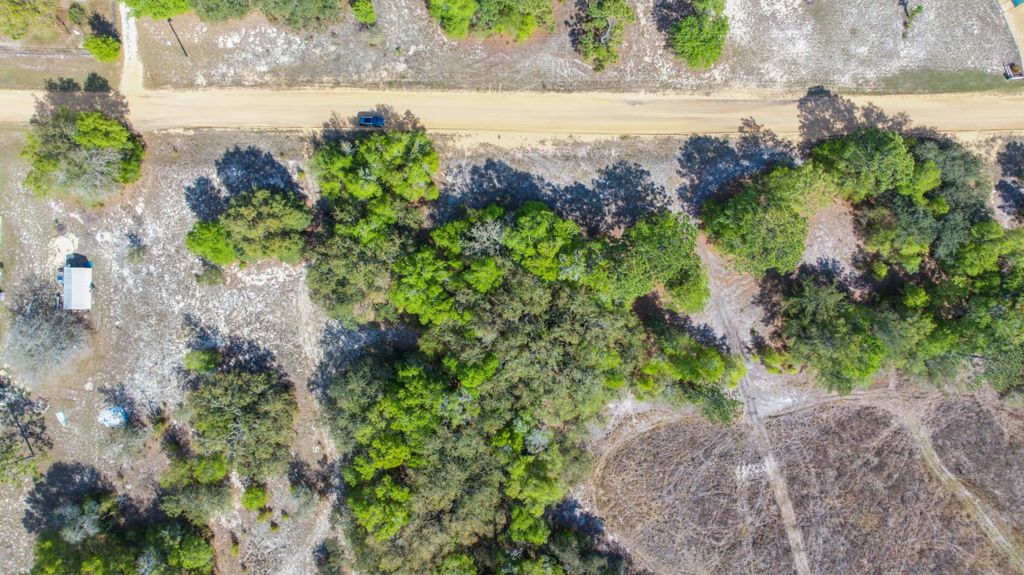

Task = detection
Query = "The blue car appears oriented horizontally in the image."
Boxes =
[357,114,384,127]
